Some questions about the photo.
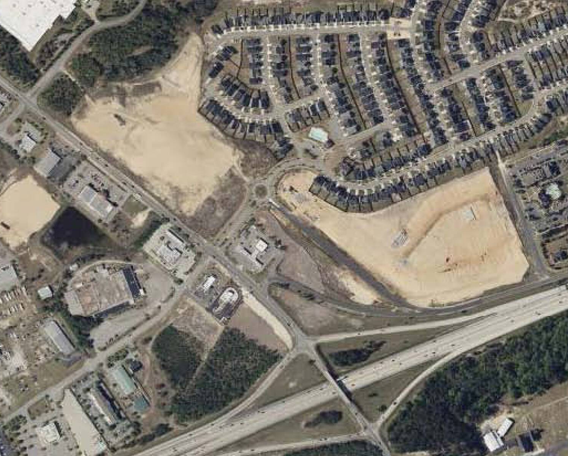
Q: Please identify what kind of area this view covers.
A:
residential area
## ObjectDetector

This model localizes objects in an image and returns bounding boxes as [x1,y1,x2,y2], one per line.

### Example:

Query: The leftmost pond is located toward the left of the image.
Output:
[41,207,108,248]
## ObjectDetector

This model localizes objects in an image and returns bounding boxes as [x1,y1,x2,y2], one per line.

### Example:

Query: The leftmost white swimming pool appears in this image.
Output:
[309,127,328,142]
